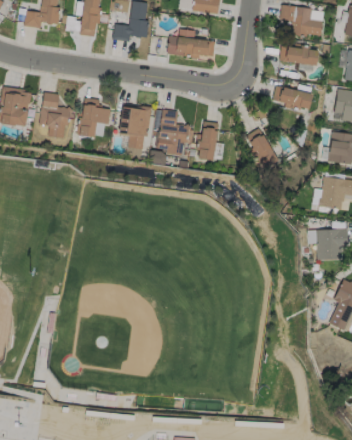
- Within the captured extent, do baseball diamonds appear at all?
Yes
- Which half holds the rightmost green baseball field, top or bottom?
bottom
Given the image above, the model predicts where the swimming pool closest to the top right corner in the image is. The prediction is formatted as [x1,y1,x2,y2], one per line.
[308,65,326,80]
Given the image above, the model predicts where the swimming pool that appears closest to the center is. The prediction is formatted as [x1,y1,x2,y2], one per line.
[112,134,126,156]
